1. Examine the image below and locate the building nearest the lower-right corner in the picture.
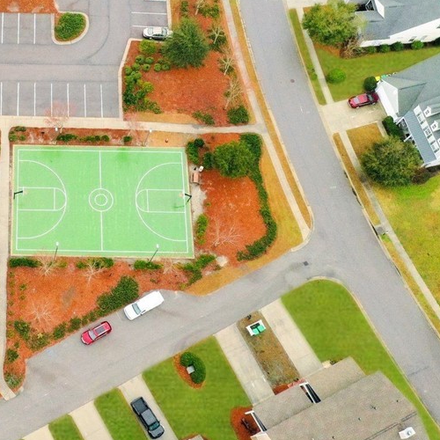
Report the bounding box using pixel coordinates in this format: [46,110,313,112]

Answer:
[241,356,425,440]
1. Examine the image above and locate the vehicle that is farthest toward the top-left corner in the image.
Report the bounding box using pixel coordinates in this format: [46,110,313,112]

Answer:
[143,27,173,42]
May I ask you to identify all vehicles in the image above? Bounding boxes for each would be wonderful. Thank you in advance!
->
[347,90,378,108]
[80,319,114,345]
[143,27,173,42]
[131,396,165,440]
[125,292,166,322]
